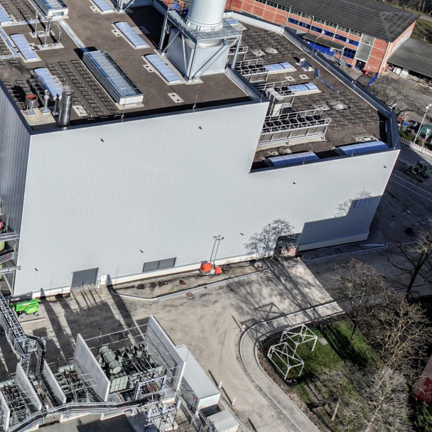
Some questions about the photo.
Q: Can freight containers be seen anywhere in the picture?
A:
Yes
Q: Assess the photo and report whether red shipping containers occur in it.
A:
No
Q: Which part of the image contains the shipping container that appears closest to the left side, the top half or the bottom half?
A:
bottom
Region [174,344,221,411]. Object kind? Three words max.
shipping container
